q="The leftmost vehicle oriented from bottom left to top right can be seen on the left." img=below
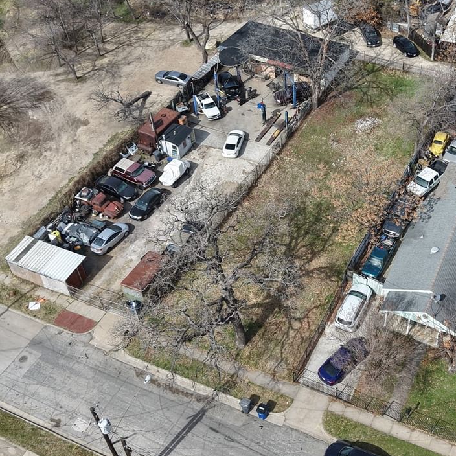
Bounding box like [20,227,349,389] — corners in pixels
[84,219,136,259]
